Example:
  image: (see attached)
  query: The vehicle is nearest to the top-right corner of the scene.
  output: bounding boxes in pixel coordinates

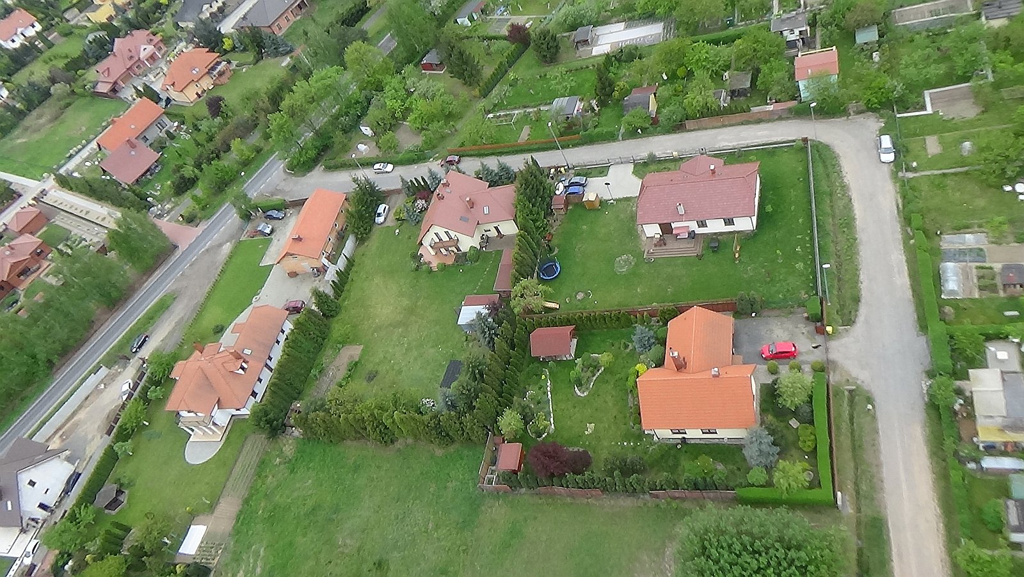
[877,132,895,162]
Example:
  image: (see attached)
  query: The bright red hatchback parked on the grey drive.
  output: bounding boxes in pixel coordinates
[761,341,798,360]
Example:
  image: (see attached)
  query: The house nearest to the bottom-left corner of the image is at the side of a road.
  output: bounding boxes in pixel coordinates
[0,435,79,553]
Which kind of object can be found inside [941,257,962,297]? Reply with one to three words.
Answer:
greenhouse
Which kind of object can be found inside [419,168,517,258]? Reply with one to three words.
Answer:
house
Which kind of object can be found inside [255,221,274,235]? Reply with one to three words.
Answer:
car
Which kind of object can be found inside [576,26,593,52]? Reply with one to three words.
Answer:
shed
